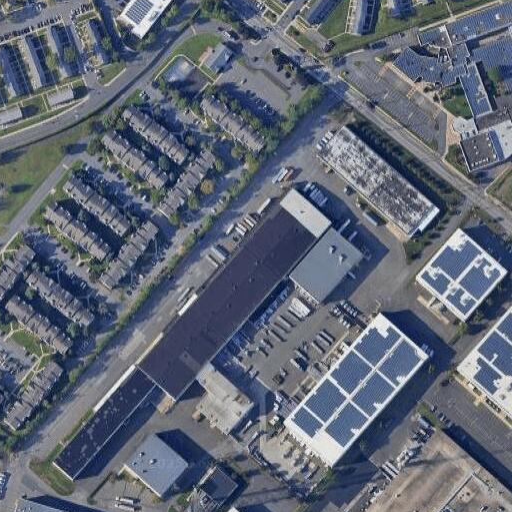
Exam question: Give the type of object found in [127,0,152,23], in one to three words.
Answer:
solar array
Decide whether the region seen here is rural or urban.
urban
